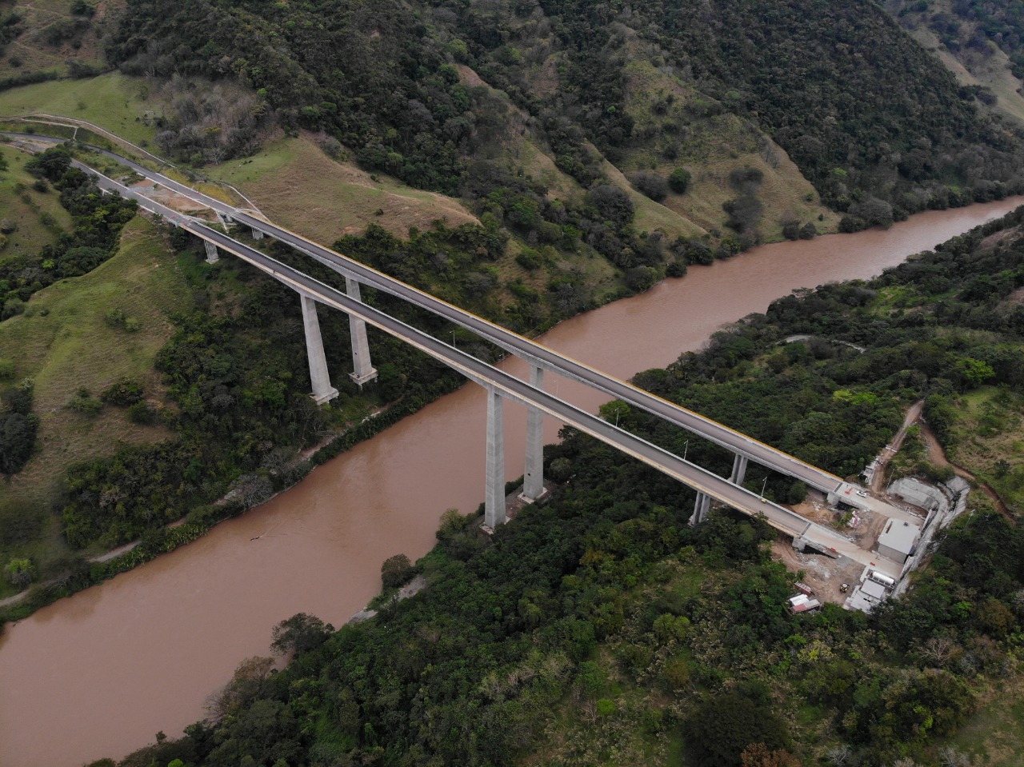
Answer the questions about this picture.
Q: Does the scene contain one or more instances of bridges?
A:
Yes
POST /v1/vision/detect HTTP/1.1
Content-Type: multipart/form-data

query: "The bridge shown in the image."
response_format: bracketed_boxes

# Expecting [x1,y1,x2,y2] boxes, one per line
[179,219,814,558]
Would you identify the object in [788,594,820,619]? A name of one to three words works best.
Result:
shed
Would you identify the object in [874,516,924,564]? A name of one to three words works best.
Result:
building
